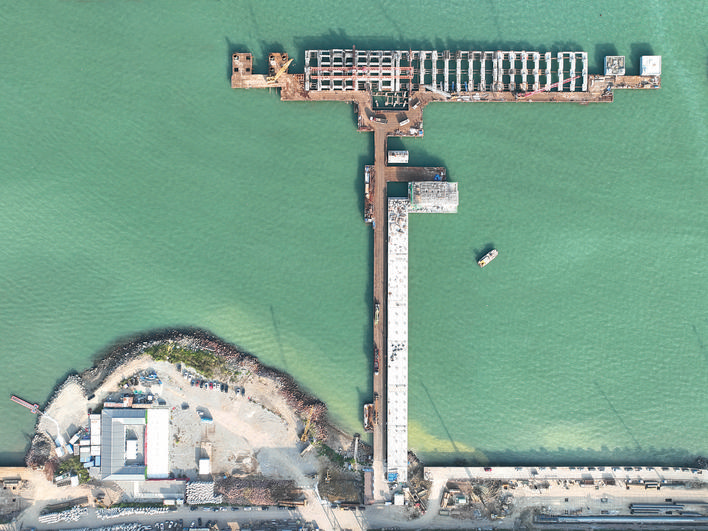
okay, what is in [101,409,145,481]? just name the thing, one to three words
building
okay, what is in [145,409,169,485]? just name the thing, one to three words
building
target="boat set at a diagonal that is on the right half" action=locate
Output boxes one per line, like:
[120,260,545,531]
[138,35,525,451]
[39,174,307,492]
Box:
[478,250,498,268]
